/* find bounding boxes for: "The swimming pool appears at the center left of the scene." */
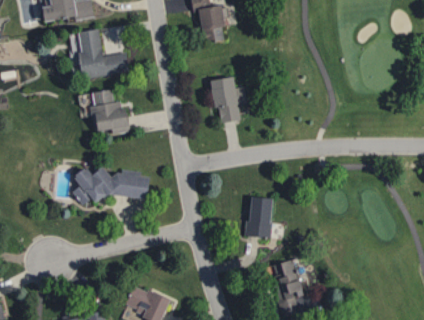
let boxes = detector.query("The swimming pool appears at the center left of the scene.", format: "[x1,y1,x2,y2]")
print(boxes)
[49,164,76,207]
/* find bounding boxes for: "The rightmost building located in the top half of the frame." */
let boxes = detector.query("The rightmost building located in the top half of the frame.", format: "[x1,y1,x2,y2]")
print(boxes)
[209,76,243,124]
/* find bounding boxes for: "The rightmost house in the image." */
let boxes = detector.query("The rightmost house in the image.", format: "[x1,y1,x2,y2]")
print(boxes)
[273,260,304,311]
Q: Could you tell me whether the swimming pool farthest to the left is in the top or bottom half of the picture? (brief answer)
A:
top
